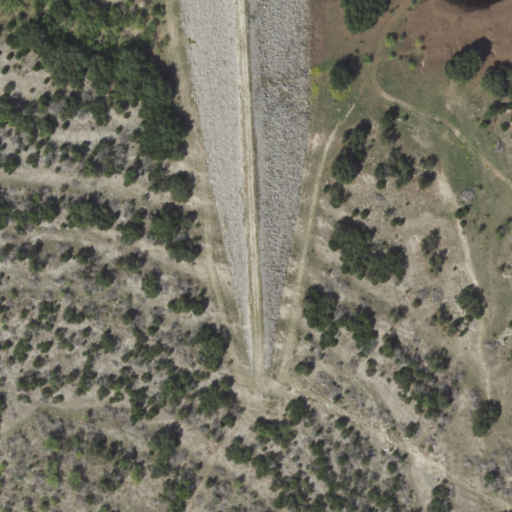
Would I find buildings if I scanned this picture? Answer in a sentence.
No, there isn't any building down there.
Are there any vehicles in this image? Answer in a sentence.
No, the photo shows no vehicle.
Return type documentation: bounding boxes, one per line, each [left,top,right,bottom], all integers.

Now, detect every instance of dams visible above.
[182,0,312,380]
